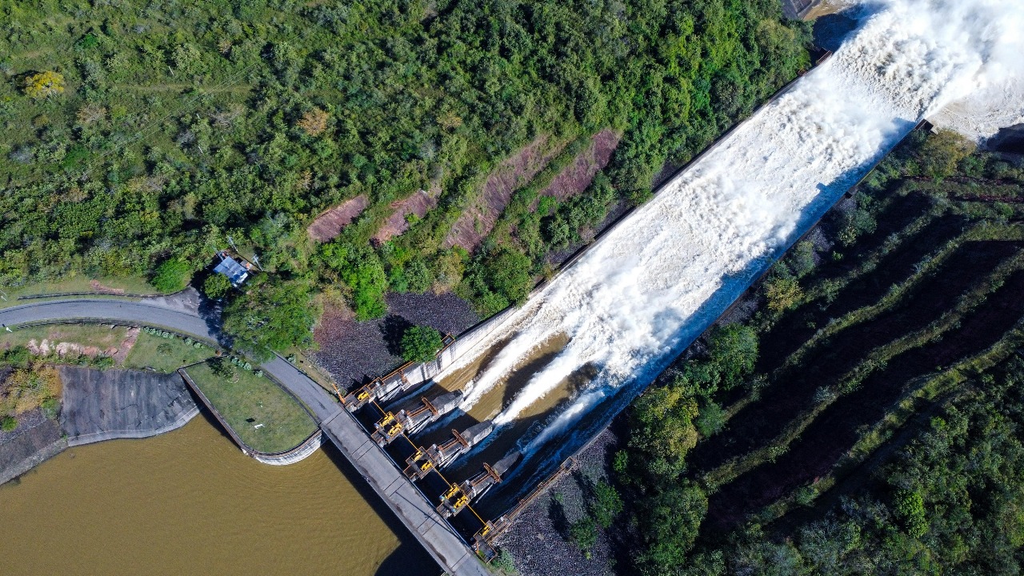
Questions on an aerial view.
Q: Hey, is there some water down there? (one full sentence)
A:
Yes, there's water in this view.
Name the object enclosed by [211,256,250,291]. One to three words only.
house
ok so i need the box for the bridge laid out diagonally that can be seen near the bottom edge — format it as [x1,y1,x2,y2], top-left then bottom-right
[321,405,502,576]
